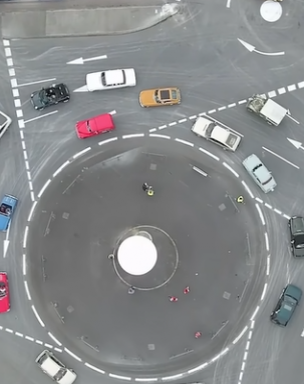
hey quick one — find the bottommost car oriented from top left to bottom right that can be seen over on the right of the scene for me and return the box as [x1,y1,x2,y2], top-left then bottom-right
[243,155,276,193]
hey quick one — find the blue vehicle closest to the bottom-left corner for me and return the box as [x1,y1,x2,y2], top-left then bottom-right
[0,195,18,231]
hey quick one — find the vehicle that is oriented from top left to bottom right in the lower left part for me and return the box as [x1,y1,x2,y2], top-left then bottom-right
[37,351,75,384]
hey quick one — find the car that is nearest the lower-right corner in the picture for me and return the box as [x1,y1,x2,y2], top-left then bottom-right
[271,285,301,326]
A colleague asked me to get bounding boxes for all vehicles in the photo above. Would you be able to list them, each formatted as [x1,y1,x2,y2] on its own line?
[271,285,301,326]
[0,272,11,313]
[290,216,304,258]
[246,93,287,126]
[139,86,181,107]
[193,118,239,151]
[87,68,136,91]
[0,195,18,231]
[76,114,115,138]
[0,113,11,139]
[37,351,75,384]
[243,155,276,193]
[31,84,69,109]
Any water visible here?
No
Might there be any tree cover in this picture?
No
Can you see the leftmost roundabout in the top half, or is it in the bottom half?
bottom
